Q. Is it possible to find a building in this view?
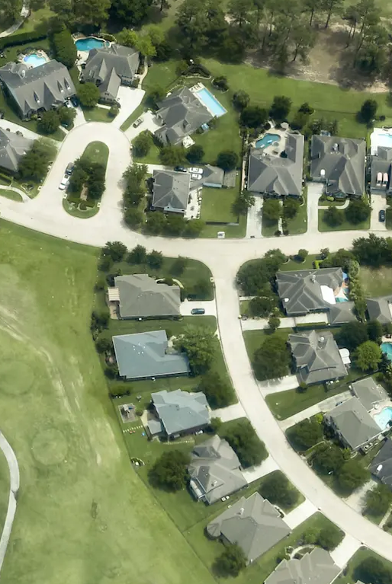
Yes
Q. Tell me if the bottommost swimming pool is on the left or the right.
right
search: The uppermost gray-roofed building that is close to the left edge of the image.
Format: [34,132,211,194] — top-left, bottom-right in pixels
[0,58,75,114]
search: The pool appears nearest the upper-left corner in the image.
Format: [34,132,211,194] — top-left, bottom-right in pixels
[20,50,51,66]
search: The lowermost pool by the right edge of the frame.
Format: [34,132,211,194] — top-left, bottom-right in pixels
[368,403,392,431]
